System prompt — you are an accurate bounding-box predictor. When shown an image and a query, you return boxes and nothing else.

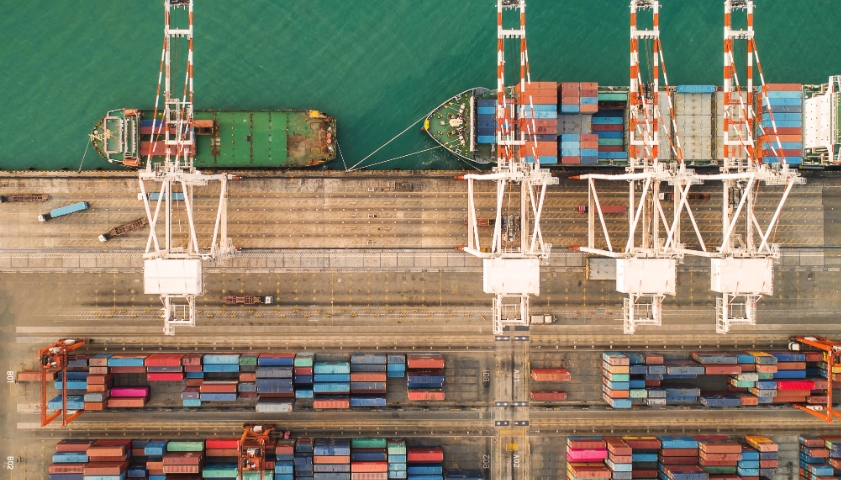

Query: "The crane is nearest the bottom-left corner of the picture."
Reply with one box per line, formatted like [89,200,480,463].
[35,340,91,431]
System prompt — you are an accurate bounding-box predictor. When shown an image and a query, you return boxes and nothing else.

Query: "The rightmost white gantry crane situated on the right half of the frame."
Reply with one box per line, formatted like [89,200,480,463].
[659,0,807,337]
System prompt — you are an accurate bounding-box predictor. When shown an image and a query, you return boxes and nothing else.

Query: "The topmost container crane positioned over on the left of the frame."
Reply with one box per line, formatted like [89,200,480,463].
[137,0,246,339]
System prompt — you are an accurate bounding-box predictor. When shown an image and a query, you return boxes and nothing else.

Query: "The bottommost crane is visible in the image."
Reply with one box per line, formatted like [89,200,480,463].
[234,423,278,480]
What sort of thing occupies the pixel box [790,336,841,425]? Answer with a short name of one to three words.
container crane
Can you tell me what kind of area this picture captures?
port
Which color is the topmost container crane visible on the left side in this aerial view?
white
